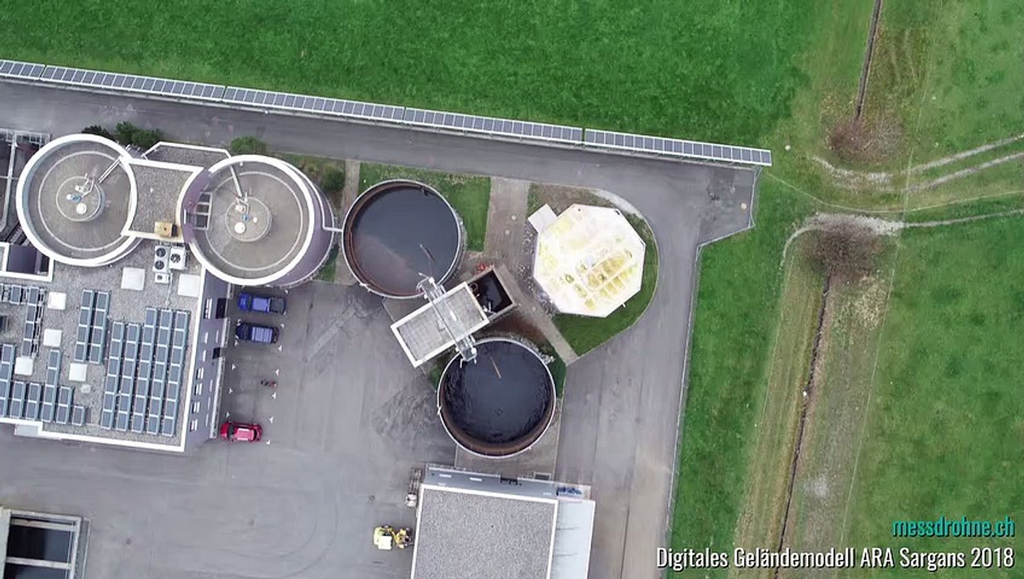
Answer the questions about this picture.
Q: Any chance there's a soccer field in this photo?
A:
No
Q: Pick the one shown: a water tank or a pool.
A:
water tank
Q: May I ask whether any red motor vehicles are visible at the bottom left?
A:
Yes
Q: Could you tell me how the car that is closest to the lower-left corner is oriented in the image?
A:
from left to right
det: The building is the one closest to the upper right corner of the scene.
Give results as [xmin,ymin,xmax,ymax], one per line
[527,203,646,317]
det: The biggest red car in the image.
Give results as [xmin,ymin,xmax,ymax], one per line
[220,422,264,443]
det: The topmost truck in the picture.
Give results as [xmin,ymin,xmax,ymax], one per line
[236,291,288,314]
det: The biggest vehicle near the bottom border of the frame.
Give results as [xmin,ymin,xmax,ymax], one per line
[372,522,415,554]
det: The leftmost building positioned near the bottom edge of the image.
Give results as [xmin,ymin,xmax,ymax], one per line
[409,456,558,579]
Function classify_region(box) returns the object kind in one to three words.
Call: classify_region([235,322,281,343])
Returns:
car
